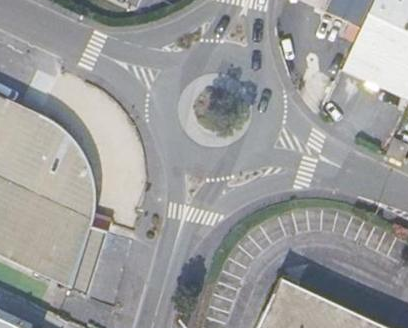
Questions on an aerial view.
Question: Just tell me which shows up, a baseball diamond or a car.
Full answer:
Visible in the photo is a car.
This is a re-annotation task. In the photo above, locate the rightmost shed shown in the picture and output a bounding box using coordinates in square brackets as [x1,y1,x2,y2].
[386,136,408,168]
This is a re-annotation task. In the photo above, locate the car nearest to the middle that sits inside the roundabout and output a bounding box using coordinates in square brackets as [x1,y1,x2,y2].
[258,90,270,110]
